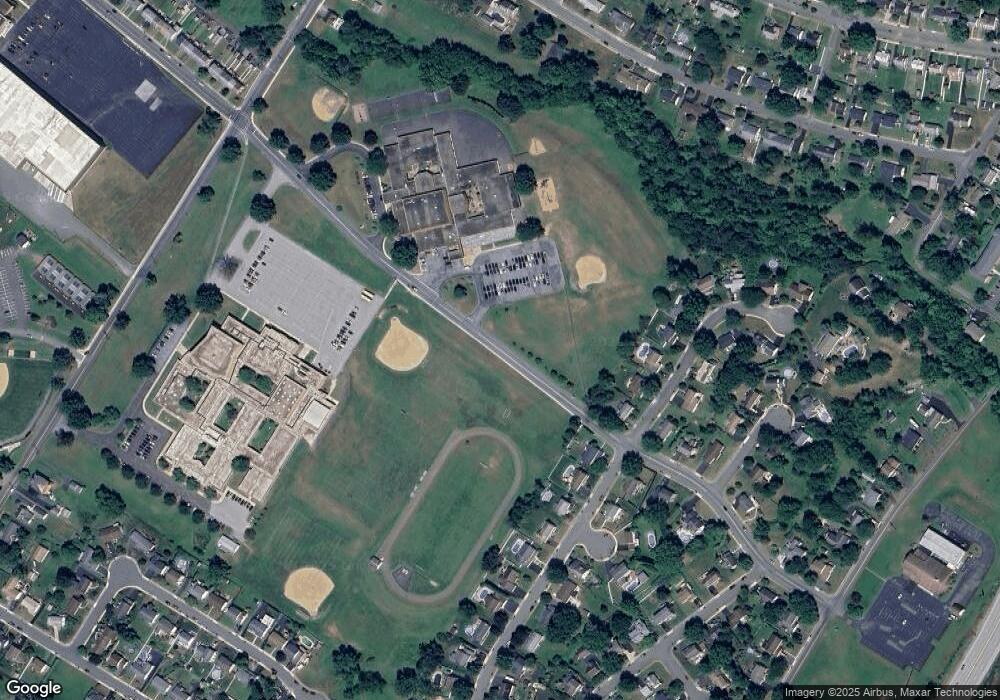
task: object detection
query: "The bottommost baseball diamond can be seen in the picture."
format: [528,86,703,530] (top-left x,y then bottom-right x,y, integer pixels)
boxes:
[284,566,334,620]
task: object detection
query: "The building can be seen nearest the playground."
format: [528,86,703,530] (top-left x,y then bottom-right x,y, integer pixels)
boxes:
[382,129,523,265]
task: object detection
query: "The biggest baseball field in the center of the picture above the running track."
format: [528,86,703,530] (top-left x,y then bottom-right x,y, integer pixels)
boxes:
[376,307,430,373]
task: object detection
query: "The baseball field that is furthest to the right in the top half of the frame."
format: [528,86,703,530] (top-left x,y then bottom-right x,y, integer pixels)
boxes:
[572,255,607,293]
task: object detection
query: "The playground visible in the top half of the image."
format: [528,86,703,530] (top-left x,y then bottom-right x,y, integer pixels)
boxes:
[537,178,559,211]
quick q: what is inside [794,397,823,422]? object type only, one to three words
house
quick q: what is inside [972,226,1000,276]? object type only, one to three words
building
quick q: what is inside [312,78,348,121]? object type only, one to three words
baseball field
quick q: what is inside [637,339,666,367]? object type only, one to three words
house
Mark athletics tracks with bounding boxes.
[381,422,525,604]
